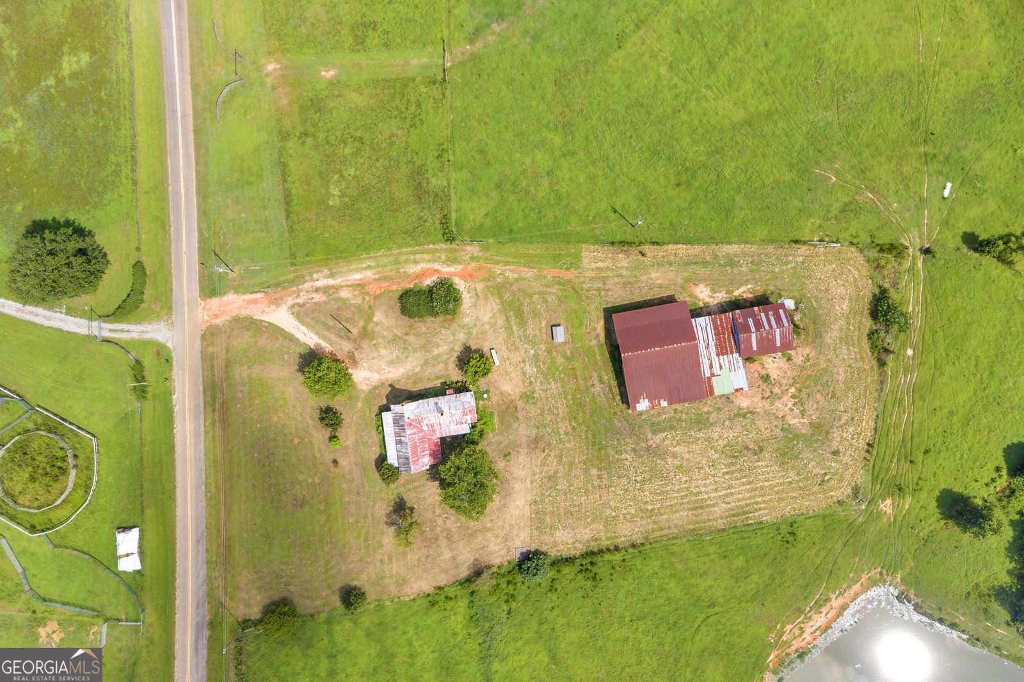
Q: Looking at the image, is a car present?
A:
No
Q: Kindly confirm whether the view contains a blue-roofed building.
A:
No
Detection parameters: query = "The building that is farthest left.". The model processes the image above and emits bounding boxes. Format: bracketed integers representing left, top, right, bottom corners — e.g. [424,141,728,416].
[382,389,477,473]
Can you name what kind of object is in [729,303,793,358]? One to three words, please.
barn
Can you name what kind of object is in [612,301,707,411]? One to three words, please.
barn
